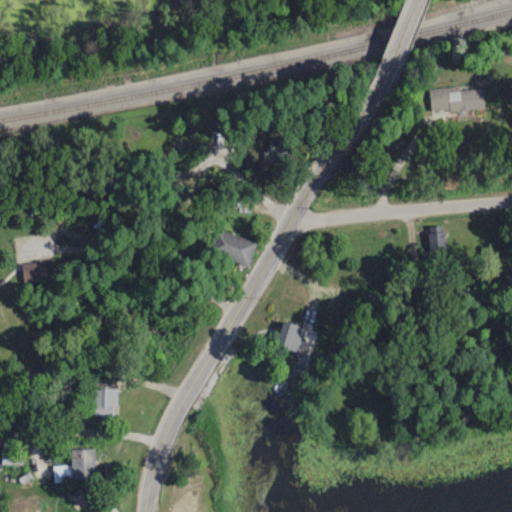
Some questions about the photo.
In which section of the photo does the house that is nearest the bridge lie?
top right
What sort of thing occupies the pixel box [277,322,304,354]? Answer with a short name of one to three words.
house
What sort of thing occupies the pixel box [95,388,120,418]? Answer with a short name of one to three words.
house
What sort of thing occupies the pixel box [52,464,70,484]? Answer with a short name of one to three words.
shed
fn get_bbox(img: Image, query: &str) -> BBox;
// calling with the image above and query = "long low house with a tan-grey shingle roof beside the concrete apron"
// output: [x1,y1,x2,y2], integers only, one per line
[431,88,487,114]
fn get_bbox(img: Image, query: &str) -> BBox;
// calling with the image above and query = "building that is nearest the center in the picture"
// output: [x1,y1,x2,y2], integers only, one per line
[212,231,258,268]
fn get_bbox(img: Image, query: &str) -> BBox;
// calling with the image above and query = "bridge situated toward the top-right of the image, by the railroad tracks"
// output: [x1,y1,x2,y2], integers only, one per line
[381,0,429,66]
